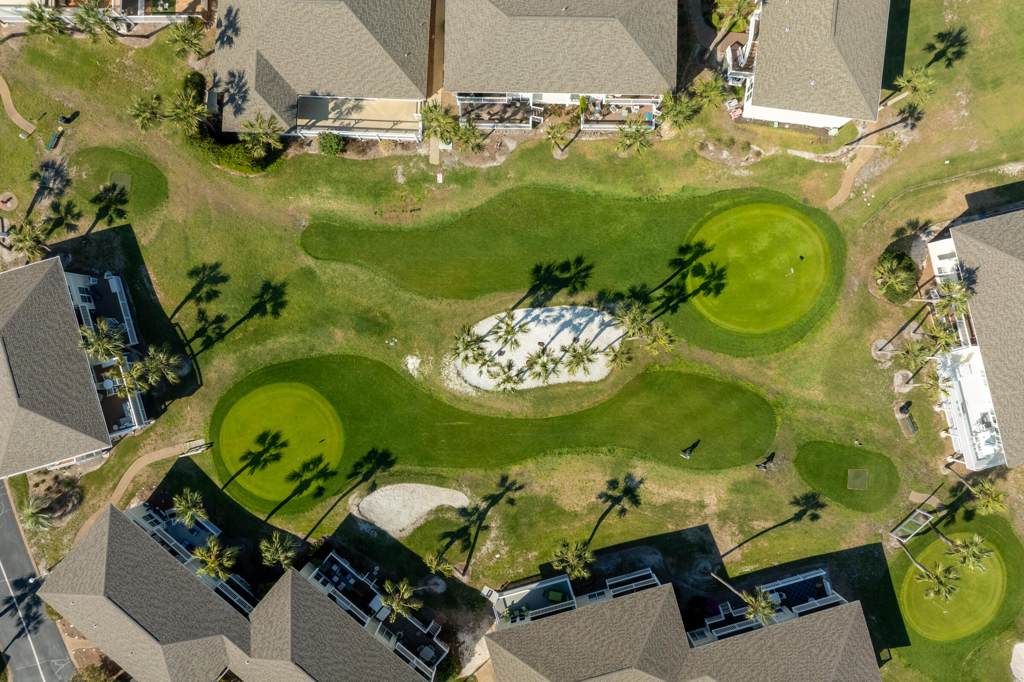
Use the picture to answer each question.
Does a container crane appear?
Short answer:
No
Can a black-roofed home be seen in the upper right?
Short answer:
No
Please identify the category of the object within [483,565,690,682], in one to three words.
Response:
house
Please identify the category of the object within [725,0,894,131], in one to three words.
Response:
house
